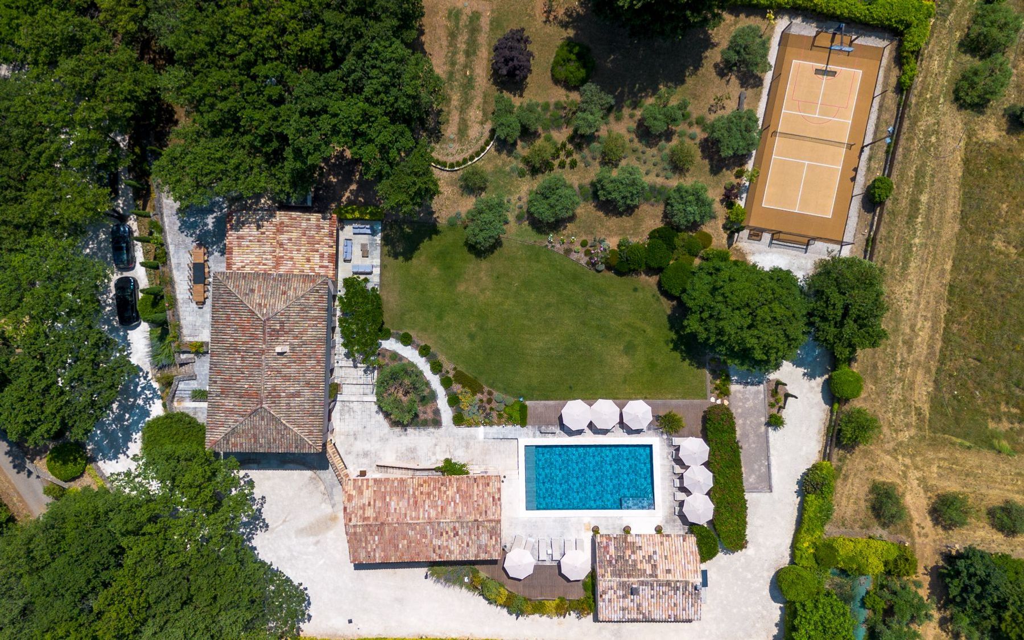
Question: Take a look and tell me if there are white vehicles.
No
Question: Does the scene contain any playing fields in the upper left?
No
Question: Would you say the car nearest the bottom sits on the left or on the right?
left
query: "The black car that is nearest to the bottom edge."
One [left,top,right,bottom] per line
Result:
[113,277,143,327]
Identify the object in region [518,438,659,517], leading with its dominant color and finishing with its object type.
blue swimming pool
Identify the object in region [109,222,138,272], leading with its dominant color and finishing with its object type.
black car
